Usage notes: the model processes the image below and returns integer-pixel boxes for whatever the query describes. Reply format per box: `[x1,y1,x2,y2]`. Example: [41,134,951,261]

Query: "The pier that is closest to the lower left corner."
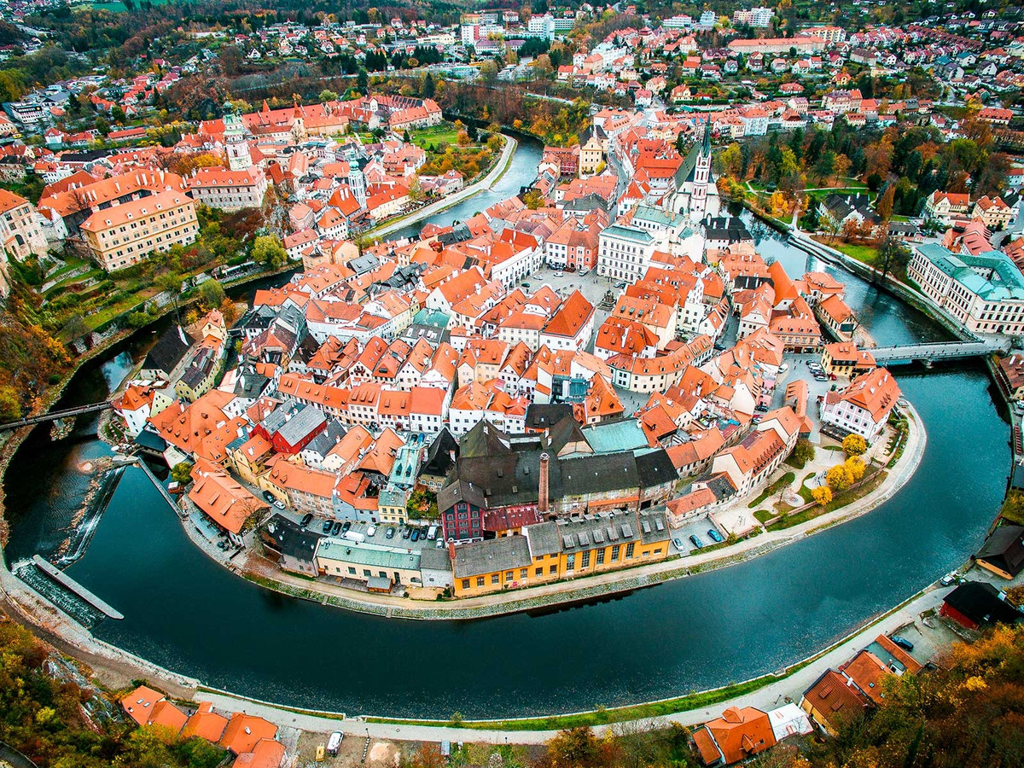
[32,555,125,621]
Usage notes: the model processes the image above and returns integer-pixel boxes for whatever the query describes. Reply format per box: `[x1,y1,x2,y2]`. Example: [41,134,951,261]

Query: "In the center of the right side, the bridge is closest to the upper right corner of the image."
[858,338,996,366]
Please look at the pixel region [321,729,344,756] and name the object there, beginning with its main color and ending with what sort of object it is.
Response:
white vehicle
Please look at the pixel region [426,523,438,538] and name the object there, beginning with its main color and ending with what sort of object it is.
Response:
white vehicle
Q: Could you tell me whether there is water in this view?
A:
Yes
